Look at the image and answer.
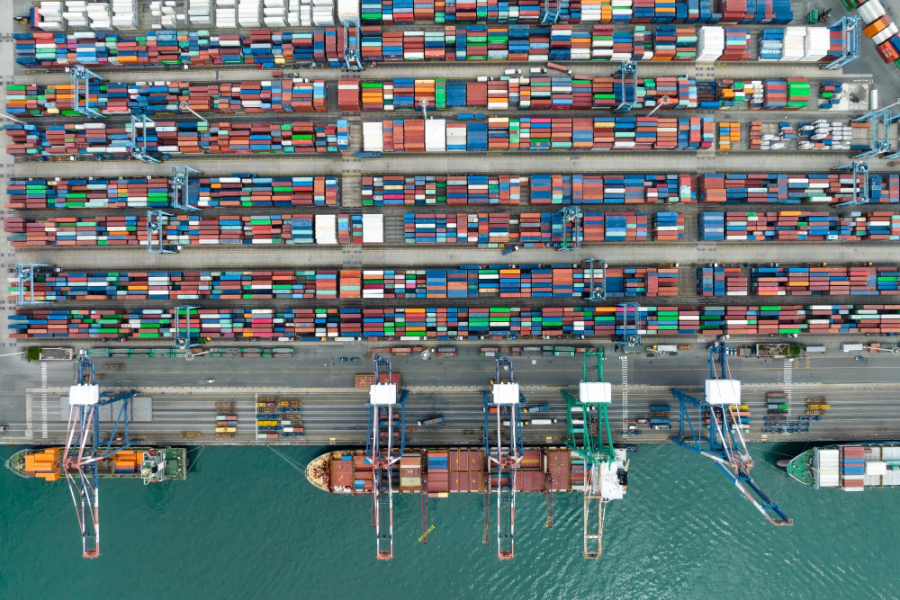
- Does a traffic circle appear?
No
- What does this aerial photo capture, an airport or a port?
port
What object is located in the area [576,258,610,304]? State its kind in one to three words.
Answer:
container crane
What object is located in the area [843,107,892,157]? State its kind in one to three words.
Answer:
container crane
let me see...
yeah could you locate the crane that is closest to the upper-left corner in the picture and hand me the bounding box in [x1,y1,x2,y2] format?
[69,63,117,116]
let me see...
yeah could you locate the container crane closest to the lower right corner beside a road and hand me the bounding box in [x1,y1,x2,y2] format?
[666,349,791,524]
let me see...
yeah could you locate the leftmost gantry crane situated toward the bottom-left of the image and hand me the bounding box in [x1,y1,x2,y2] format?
[59,351,152,560]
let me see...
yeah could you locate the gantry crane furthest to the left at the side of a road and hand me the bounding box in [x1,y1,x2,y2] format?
[15,262,64,303]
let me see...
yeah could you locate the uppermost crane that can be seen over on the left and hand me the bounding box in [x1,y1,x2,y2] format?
[340,12,371,69]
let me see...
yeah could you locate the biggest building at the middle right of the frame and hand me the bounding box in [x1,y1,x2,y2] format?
[753,343,789,357]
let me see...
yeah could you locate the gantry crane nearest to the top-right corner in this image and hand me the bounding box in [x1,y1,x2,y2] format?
[814,11,861,67]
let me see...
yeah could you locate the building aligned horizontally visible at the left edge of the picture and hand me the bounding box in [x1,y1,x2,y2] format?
[39,347,78,360]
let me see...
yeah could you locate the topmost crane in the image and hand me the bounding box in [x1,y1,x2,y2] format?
[533,0,564,25]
